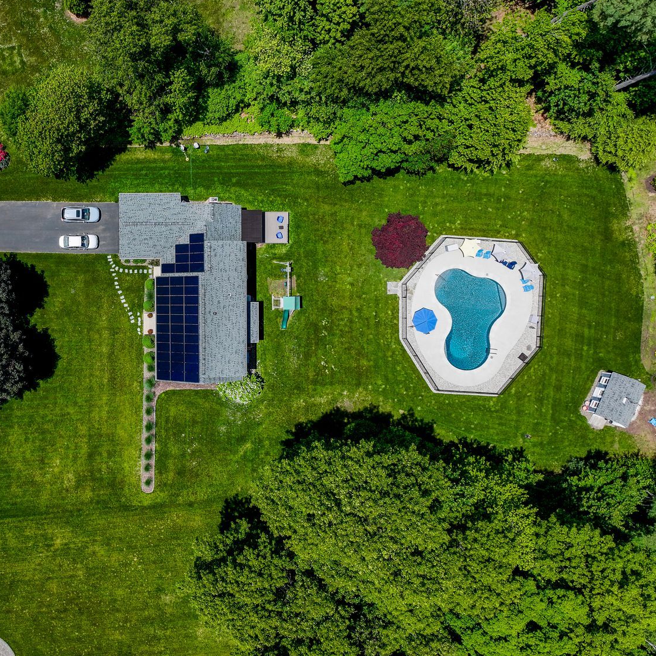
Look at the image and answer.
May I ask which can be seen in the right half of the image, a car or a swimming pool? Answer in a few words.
swimming pool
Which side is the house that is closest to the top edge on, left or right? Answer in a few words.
left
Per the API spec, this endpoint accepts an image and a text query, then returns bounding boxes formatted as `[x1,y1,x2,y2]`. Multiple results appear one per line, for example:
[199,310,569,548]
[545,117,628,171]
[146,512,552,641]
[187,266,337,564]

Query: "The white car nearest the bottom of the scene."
[59,231,99,250]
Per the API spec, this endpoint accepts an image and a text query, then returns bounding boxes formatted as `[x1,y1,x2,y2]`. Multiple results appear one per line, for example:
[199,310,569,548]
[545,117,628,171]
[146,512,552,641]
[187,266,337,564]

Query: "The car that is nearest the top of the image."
[61,205,101,223]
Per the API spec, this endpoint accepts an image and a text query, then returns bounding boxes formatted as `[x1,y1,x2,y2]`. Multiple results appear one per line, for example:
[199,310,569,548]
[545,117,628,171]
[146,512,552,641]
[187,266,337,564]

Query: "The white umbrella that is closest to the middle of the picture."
[458,238,480,257]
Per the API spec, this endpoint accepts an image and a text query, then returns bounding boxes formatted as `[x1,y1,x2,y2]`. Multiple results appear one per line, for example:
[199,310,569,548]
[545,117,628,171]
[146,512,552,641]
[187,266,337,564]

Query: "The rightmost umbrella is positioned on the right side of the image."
[519,261,540,284]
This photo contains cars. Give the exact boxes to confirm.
[61,205,101,223]
[59,231,99,250]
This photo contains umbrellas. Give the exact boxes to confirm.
[491,240,514,263]
[406,308,436,333]
[519,261,540,284]
[458,238,480,257]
